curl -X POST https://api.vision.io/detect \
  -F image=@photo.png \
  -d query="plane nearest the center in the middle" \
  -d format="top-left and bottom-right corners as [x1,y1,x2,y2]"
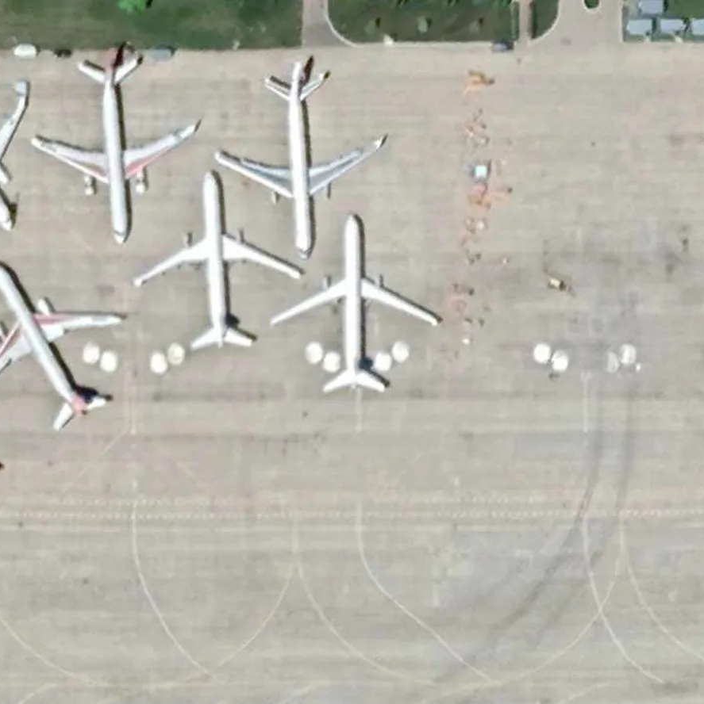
[271,214,439,390]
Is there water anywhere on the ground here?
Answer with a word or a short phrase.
No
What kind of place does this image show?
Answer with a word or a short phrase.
airport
